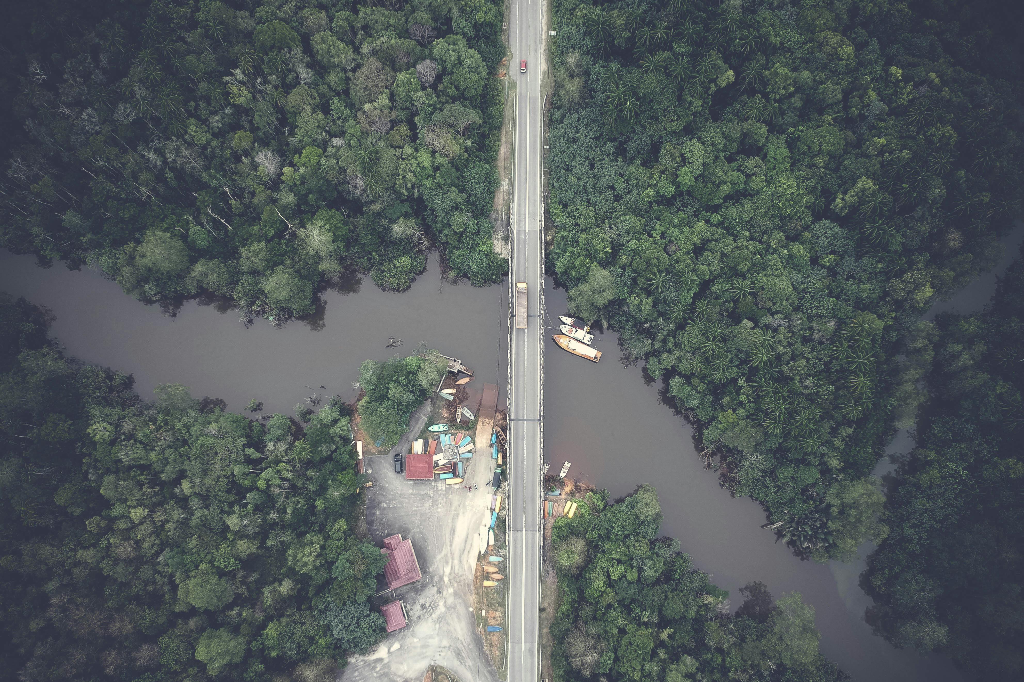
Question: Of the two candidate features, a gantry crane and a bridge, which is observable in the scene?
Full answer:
Of the two, only a bridge appears.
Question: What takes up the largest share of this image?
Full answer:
What you mostly see from above here is trees.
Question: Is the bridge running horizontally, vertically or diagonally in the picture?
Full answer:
In this picture, the bridge lies vertically.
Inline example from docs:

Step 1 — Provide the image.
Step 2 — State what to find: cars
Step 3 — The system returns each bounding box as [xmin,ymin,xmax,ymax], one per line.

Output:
[395,454,403,473]
[518,60,525,72]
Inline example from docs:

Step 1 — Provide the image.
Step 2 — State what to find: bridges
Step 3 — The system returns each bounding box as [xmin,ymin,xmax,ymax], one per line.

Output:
[505,204,544,545]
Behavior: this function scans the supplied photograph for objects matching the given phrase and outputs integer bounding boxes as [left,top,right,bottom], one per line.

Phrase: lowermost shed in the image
[380,600,409,633]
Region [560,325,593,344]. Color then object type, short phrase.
white boat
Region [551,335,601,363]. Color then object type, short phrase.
white boat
